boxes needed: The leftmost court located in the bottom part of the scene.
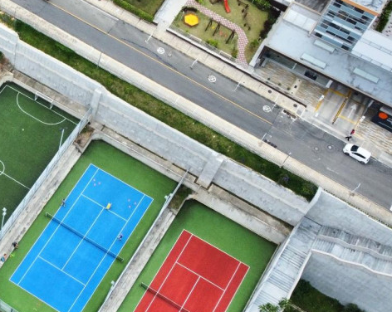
[0,143,179,312]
